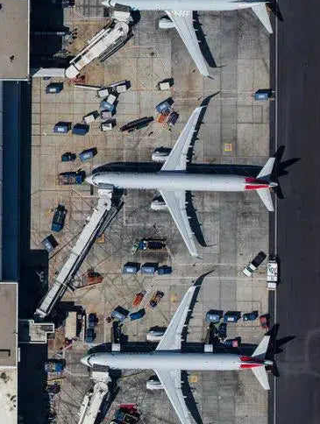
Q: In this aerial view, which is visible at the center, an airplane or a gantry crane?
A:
airplane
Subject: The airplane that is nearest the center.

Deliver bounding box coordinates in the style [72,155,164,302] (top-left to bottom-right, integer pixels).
[85,106,277,261]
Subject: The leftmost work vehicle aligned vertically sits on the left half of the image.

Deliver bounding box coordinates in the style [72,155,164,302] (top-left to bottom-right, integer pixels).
[51,198,66,234]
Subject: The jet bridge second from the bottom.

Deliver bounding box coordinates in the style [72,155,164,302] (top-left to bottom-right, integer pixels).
[35,183,117,320]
